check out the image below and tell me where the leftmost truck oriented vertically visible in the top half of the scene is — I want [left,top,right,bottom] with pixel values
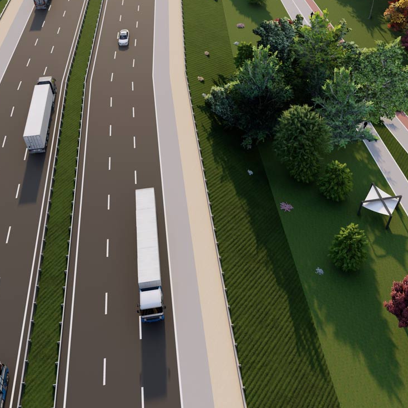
[22,75,55,151]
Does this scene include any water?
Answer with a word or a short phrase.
No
